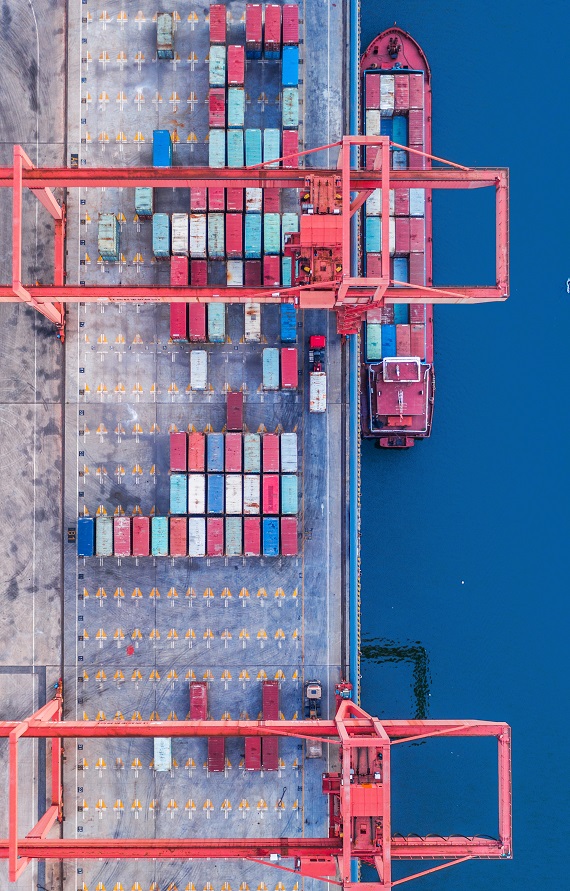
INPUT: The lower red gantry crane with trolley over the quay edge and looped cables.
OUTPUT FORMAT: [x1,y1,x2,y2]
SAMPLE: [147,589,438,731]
[0,669,513,889]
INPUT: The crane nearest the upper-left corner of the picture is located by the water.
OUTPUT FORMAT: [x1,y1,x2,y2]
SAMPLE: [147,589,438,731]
[0,141,510,350]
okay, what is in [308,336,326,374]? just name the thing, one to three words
vehicle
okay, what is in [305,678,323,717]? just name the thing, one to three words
vehicle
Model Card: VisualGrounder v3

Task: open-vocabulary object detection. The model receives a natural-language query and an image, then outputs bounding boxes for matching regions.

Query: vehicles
[305,678,323,717]
[308,336,326,374]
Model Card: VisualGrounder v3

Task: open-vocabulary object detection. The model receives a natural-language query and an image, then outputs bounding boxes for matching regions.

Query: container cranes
[0,141,510,350]
[0,669,513,889]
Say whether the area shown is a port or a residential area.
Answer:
port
